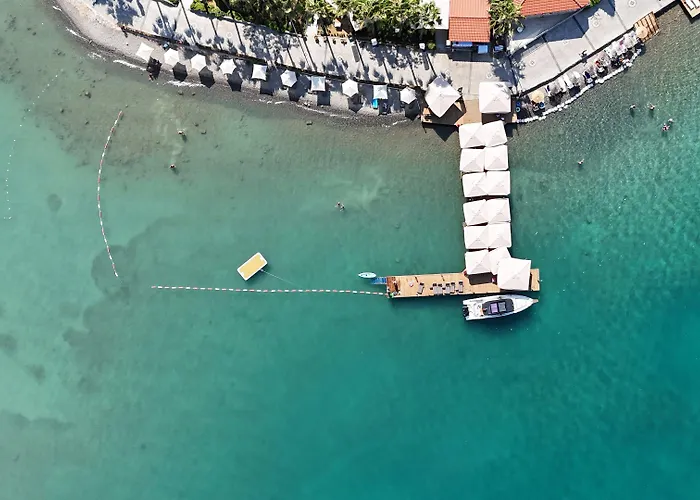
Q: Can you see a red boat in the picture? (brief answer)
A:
No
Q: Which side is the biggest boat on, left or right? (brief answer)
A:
right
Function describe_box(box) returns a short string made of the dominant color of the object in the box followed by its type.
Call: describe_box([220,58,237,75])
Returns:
white umbrella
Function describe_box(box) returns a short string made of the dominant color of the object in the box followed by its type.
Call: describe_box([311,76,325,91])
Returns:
white umbrella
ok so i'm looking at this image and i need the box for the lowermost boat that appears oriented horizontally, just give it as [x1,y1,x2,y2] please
[459,290,539,319]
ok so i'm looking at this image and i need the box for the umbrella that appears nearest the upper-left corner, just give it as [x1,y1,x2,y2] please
[135,40,156,62]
